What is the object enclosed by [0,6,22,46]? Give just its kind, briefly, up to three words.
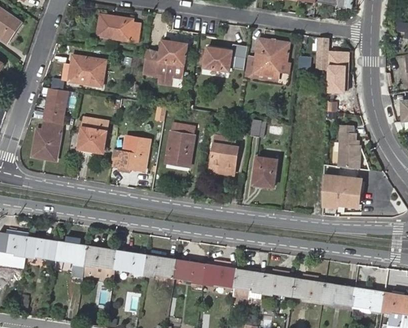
house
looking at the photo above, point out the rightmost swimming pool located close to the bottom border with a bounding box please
[124,292,141,314]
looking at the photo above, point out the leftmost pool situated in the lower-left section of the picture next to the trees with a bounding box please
[97,281,111,306]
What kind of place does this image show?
residential area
